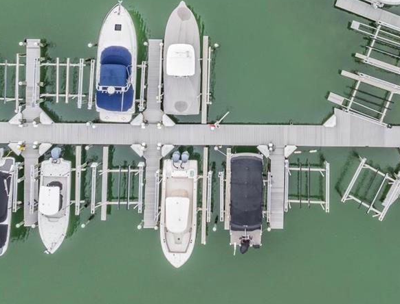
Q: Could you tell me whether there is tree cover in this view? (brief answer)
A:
No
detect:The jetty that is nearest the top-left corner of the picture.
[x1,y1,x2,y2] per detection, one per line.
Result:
[23,40,44,123]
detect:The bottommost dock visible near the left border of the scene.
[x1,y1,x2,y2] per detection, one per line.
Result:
[9,143,54,226]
